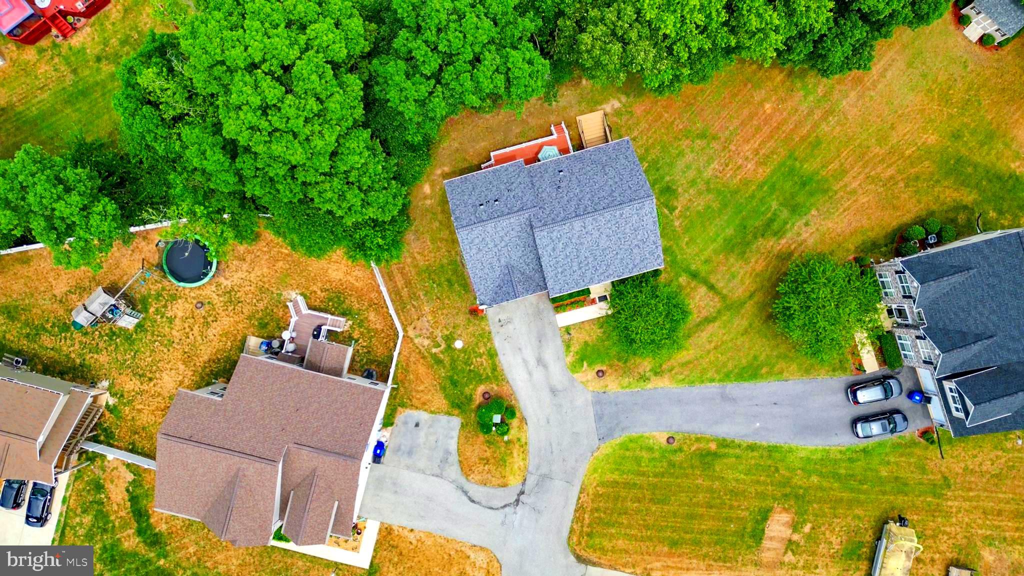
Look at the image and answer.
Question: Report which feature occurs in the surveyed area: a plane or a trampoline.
trampoline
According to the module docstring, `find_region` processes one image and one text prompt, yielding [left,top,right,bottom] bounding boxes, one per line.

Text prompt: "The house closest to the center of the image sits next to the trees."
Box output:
[443,136,665,310]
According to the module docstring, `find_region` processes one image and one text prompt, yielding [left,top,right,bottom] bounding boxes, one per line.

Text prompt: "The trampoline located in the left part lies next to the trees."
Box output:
[158,233,219,289]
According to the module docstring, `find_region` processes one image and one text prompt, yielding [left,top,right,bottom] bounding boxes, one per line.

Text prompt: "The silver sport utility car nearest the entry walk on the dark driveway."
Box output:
[846,375,899,405]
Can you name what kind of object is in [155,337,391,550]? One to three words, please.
house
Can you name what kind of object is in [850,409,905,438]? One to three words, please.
car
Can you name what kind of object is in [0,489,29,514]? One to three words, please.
car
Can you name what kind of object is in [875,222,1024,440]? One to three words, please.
house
